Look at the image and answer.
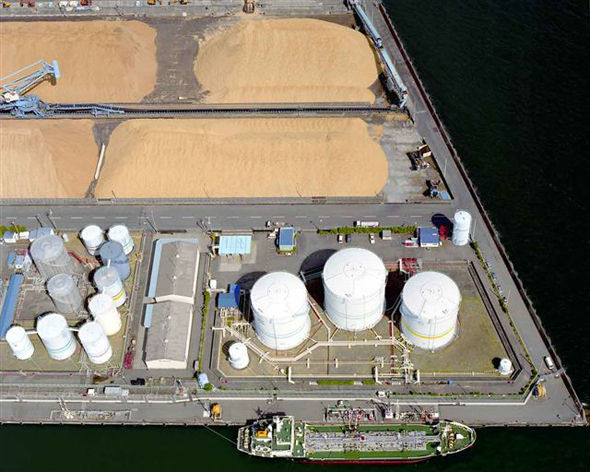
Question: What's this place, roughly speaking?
industrial area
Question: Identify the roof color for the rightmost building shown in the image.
blue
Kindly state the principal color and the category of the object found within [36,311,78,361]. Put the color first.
white storage tank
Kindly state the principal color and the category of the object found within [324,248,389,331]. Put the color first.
white storage tank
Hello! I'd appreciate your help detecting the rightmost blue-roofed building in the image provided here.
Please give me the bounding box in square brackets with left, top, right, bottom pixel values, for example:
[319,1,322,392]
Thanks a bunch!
[419,227,442,248]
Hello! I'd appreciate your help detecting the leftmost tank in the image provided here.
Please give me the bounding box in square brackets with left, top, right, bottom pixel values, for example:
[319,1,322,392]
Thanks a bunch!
[5,324,36,361]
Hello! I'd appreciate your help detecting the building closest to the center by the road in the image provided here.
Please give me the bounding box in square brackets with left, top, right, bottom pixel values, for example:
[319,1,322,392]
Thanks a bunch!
[279,228,294,254]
